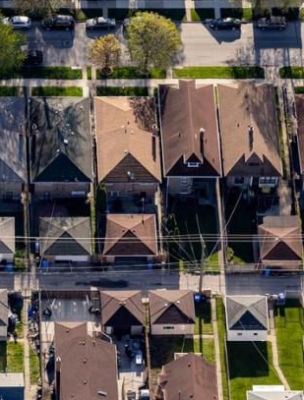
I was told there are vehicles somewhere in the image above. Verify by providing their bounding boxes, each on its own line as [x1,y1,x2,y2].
[122,14,152,28]
[85,16,115,30]
[257,14,288,29]
[3,15,30,28]
[44,14,74,29]
[209,16,239,30]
